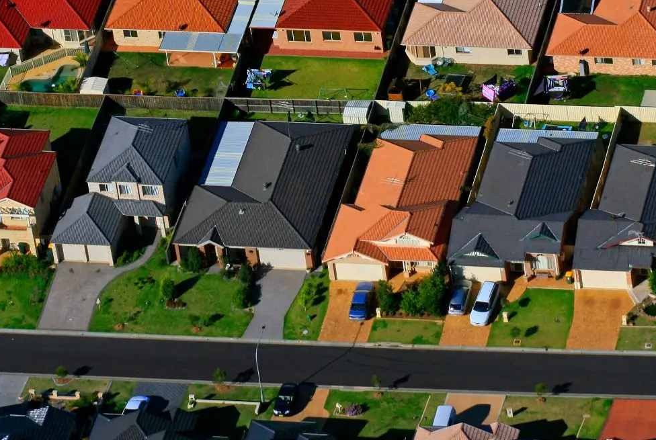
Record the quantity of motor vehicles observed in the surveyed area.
six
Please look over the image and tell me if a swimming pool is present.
Yes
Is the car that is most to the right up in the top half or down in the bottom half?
bottom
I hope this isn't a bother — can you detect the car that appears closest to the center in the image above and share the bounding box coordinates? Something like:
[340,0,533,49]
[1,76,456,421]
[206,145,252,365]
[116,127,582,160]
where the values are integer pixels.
[349,287,375,319]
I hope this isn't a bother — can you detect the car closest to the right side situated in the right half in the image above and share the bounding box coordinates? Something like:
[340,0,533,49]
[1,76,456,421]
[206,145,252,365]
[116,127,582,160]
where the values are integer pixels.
[470,283,500,322]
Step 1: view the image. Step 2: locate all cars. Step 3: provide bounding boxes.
[349,287,375,319]
[271,383,301,420]
[117,392,152,414]
[470,283,500,322]
[446,285,472,315]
